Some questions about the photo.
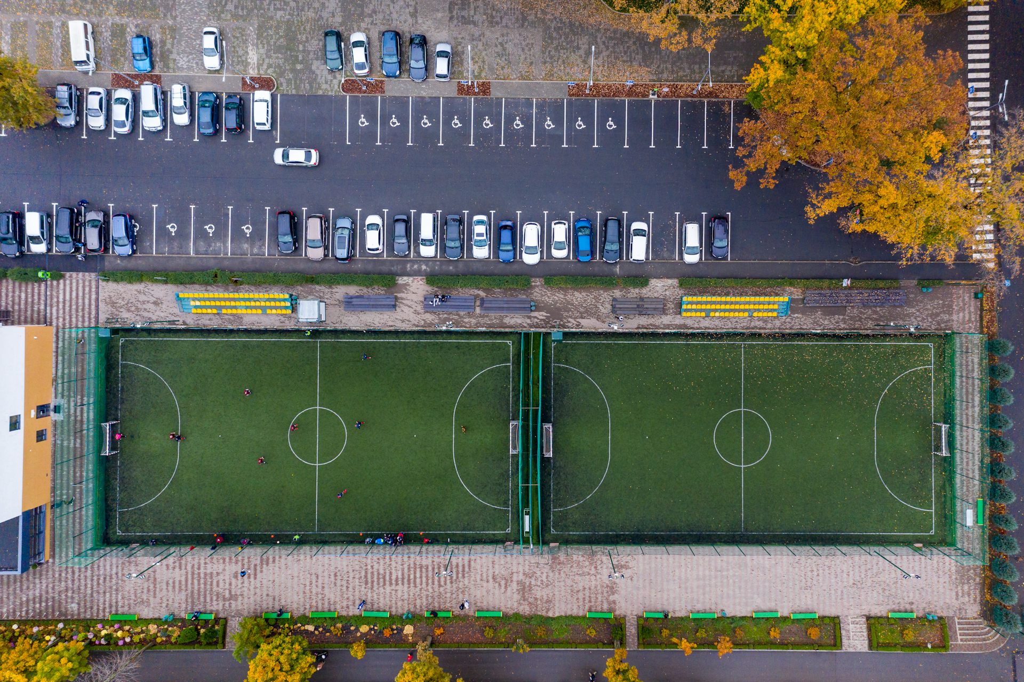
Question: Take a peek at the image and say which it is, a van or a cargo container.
van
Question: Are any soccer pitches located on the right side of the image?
Yes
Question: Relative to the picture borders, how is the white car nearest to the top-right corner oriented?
from top to bottom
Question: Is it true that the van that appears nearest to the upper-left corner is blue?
No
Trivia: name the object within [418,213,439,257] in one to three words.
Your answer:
vehicle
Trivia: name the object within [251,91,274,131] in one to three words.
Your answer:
car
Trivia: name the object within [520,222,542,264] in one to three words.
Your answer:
car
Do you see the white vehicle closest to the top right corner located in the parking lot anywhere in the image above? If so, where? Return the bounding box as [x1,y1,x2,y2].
[681,222,703,264]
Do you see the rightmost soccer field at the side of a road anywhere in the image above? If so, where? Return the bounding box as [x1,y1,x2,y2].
[540,330,947,544]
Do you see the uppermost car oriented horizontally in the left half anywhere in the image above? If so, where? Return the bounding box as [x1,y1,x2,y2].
[275,146,320,167]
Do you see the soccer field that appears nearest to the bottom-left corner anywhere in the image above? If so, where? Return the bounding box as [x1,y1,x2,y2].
[101,330,521,544]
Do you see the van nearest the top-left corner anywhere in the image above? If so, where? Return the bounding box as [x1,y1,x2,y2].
[63,18,98,72]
